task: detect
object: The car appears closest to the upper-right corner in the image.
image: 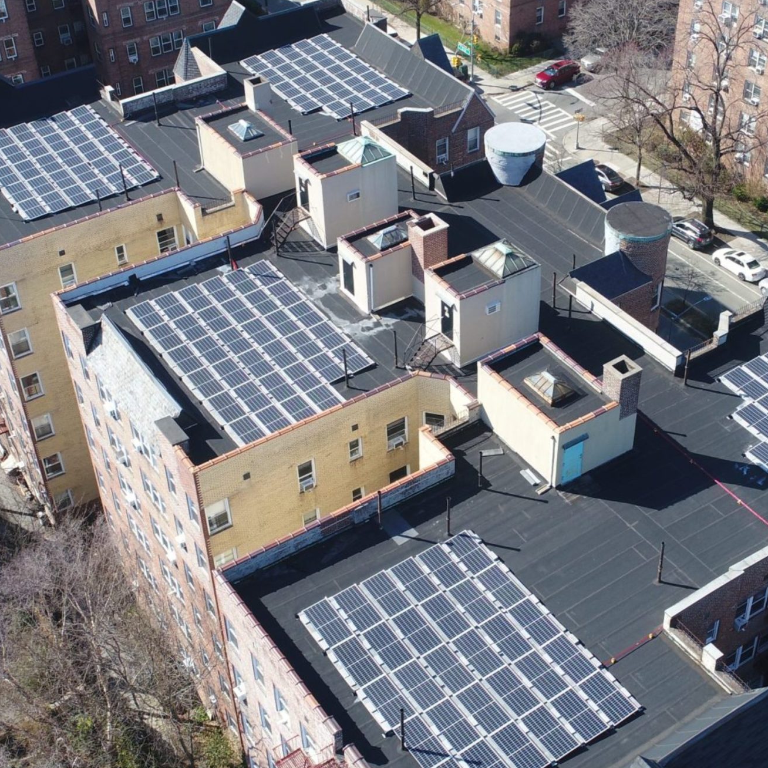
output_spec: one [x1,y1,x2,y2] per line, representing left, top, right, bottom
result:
[582,49,629,73]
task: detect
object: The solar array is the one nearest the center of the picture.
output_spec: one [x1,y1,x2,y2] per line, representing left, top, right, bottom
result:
[125,260,373,450]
